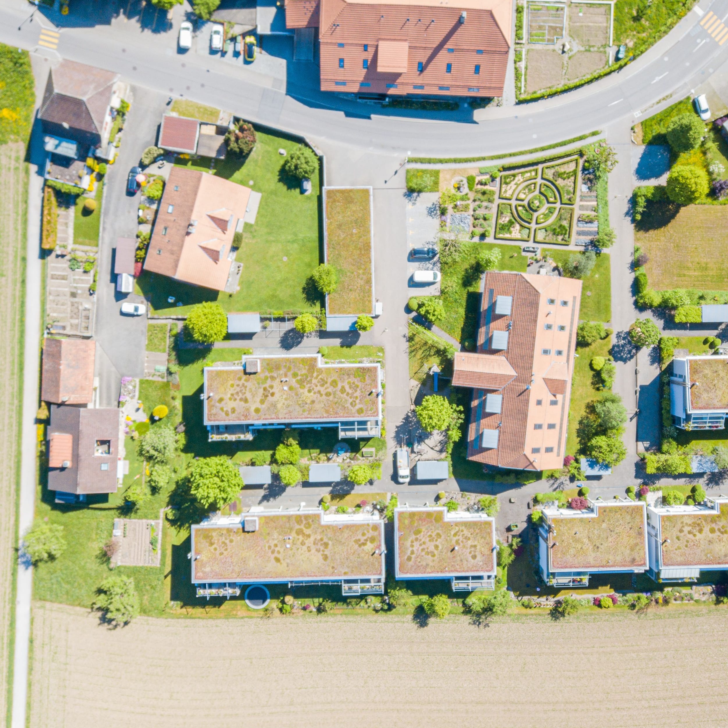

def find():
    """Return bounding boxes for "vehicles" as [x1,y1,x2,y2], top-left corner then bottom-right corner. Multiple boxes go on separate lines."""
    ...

[398,448,410,483]
[128,168,139,194]
[179,22,192,48]
[211,25,222,49]
[121,303,145,314]
[414,270,440,282]
[412,246,437,258]
[694,94,711,120]
[244,36,256,60]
